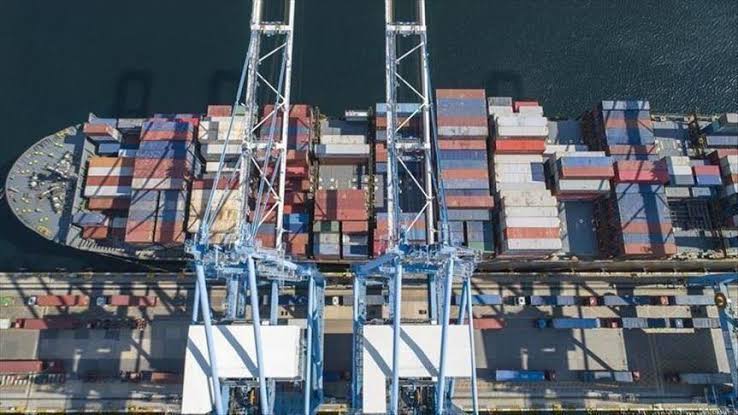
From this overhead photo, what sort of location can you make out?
port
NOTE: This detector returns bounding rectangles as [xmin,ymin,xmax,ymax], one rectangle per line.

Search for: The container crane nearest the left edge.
[177,0,349,415]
